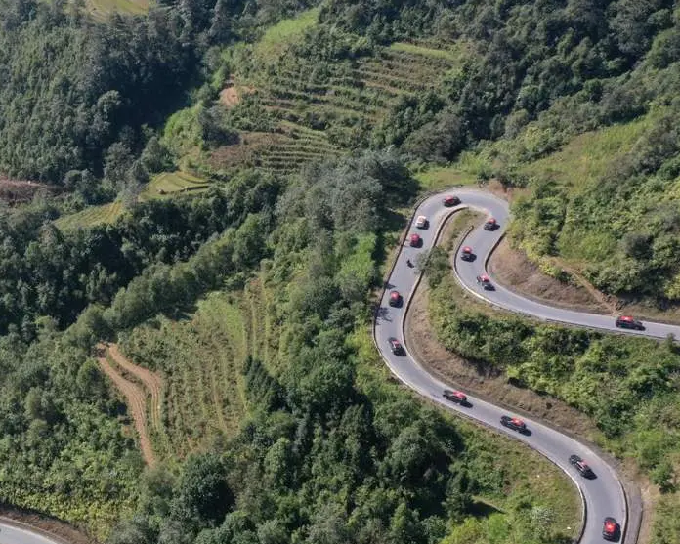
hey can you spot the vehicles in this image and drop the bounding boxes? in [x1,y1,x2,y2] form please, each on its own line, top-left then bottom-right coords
[462,245,473,260]
[410,237,420,247]
[484,216,497,229]
[614,314,643,329]
[389,292,402,306]
[568,457,595,479]
[601,518,619,543]
[499,417,529,434]
[443,197,459,206]
[474,274,493,289]
[443,391,472,408]
[416,215,427,226]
